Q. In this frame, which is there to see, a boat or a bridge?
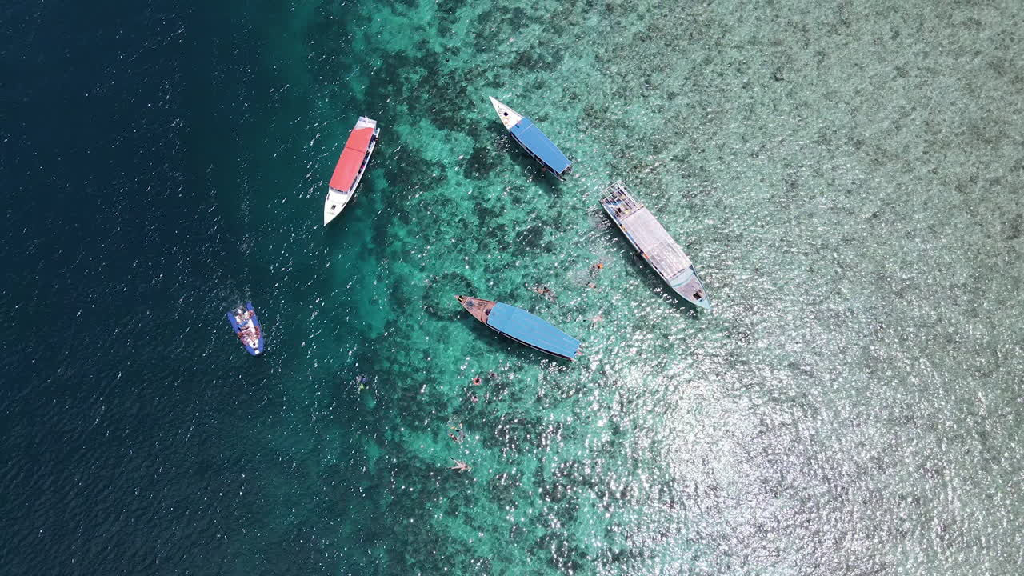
boat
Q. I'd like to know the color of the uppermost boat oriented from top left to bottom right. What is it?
blue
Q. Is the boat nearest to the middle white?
No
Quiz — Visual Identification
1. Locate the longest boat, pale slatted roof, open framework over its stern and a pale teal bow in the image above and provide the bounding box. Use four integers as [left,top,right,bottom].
[597,182,711,313]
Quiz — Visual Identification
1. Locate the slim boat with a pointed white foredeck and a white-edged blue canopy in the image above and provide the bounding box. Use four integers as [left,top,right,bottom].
[489,95,575,184]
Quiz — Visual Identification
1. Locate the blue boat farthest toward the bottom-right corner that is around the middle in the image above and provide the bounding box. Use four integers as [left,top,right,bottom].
[454,294,581,364]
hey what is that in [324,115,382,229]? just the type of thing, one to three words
boat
